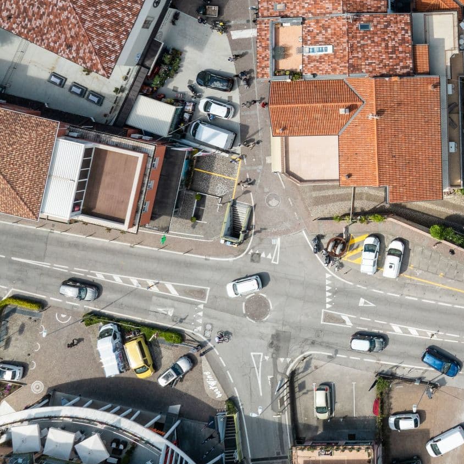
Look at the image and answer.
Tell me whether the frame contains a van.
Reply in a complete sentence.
Yes, a van is visible in the scene.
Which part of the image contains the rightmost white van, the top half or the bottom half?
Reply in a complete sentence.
The rightmost white van sits in the bottom half of the picture.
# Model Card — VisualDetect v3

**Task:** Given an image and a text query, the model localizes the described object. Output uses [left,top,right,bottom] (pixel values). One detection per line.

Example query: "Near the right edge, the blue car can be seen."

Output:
[421,345,462,375]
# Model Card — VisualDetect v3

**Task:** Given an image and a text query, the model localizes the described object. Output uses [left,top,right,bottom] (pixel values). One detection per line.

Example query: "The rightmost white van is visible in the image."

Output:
[426,424,464,456]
